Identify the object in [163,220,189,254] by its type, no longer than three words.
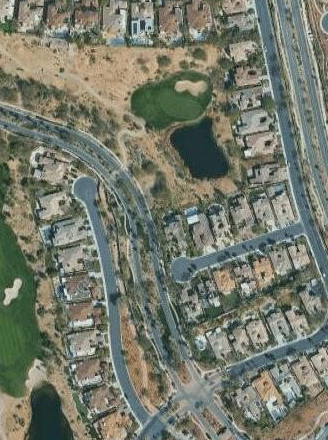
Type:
house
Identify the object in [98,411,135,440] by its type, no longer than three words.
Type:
house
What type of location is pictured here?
residential area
